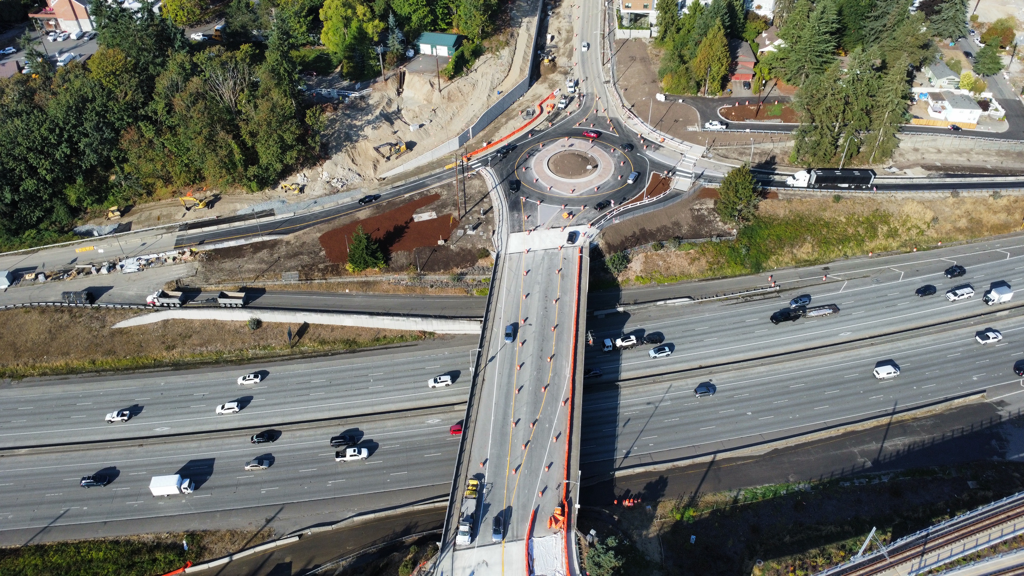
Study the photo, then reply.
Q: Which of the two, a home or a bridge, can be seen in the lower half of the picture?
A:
bridge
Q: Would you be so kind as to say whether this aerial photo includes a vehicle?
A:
Yes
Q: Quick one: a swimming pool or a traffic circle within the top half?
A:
traffic circle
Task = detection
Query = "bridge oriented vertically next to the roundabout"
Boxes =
[441,242,588,557]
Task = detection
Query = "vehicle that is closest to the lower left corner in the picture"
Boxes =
[79,475,110,490]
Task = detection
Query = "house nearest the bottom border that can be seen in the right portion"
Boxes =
[926,90,986,122]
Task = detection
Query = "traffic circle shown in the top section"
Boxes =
[516,137,633,197]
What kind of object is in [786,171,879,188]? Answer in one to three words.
vehicle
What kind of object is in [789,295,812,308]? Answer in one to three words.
vehicle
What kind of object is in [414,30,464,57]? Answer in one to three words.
shed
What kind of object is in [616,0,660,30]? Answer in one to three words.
building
